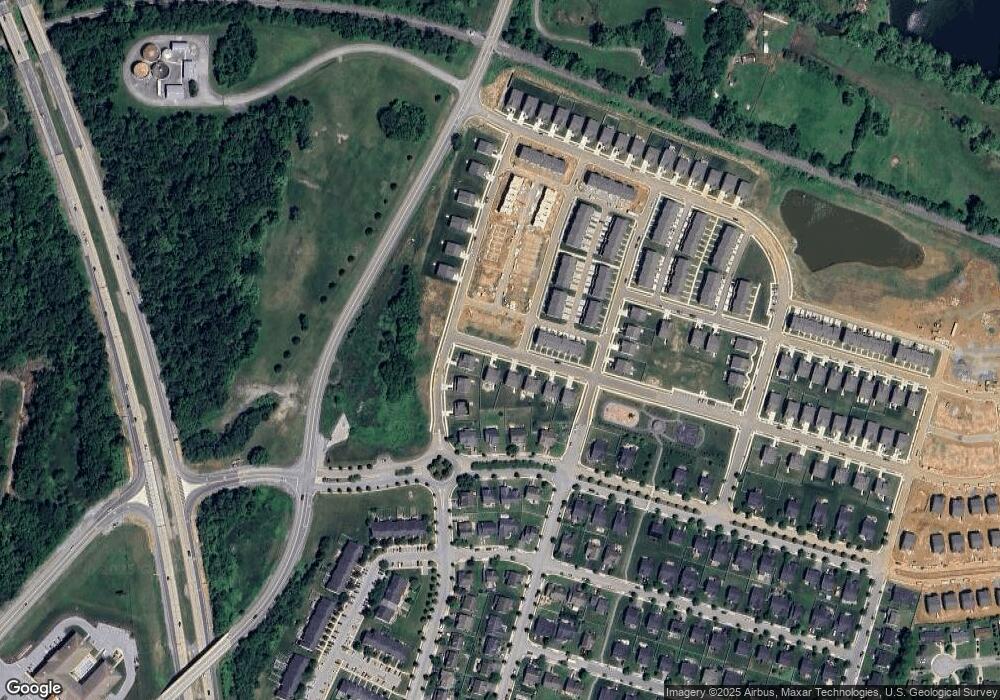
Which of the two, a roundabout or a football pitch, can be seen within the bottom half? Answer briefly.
roundabout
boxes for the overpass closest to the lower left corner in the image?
[155,632,234,700]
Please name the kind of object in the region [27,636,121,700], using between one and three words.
building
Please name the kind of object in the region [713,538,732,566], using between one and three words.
house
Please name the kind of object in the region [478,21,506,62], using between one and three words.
bridge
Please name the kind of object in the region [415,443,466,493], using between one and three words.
roundabout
